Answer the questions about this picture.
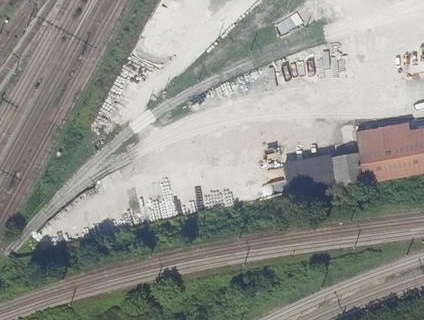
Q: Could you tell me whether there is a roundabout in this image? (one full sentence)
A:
No, there isn't any roundabout down there.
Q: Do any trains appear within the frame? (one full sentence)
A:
No, no train is visible in the scene.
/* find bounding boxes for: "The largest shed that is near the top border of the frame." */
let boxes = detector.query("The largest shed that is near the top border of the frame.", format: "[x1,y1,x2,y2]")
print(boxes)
[276,12,304,35]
